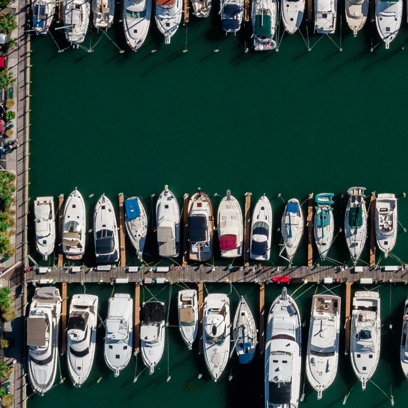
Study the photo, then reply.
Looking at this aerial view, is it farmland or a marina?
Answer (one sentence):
The area seen from above is a marina.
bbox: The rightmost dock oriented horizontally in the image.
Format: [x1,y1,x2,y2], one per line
[30,264,408,282]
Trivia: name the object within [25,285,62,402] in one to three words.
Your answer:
boat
